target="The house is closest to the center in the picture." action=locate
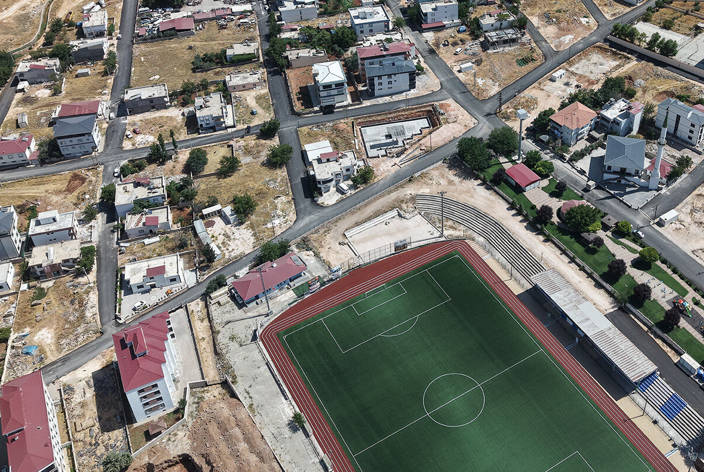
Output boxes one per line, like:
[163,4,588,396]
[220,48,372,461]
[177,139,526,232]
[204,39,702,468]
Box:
[308,151,359,193]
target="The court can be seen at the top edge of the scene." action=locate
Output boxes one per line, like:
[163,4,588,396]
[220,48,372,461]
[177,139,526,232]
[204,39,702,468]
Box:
[635,21,689,45]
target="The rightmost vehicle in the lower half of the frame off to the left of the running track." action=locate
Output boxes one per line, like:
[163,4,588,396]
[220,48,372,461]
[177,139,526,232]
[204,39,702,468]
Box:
[232,295,245,310]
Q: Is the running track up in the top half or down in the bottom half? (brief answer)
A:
bottom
